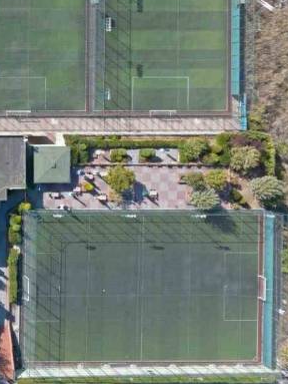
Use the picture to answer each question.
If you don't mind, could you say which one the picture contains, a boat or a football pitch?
football pitch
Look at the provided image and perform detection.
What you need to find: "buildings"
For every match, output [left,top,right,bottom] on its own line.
[33,146,70,183]
[0,135,27,194]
